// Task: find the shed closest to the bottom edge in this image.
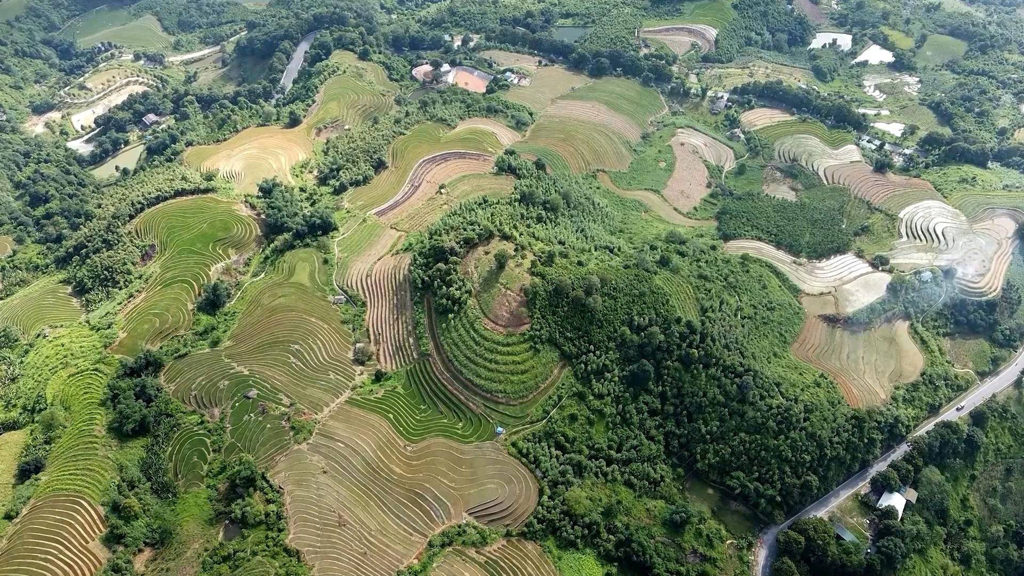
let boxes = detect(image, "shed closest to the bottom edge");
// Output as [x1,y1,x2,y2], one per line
[829,524,864,552]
